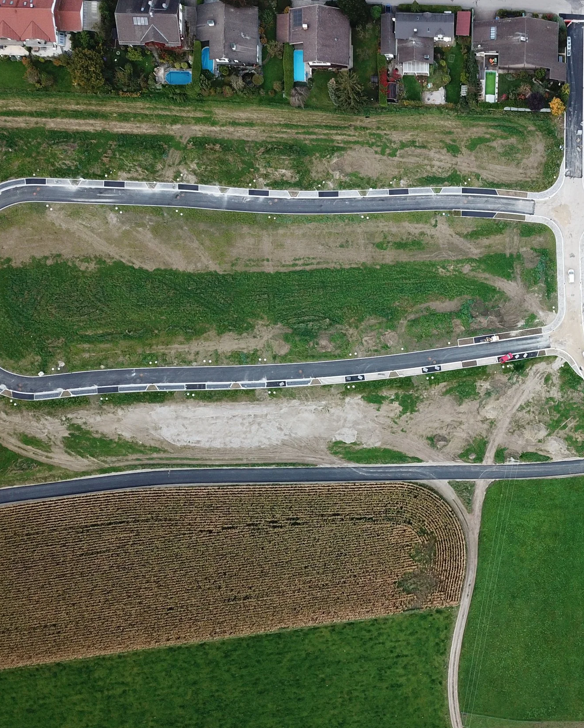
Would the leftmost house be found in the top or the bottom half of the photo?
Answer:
top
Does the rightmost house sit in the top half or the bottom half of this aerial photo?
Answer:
top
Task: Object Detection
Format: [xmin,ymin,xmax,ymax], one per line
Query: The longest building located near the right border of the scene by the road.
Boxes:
[471,18,567,84]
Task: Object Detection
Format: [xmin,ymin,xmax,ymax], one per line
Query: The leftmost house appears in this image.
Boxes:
[0,0,104,48]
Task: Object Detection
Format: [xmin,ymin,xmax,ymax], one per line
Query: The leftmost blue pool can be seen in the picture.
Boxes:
[165,70,193,85]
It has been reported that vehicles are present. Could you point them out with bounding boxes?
[499,352,512,364]
[568,268,574,283]
[385,2,392,13]
[481,335,500,343]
